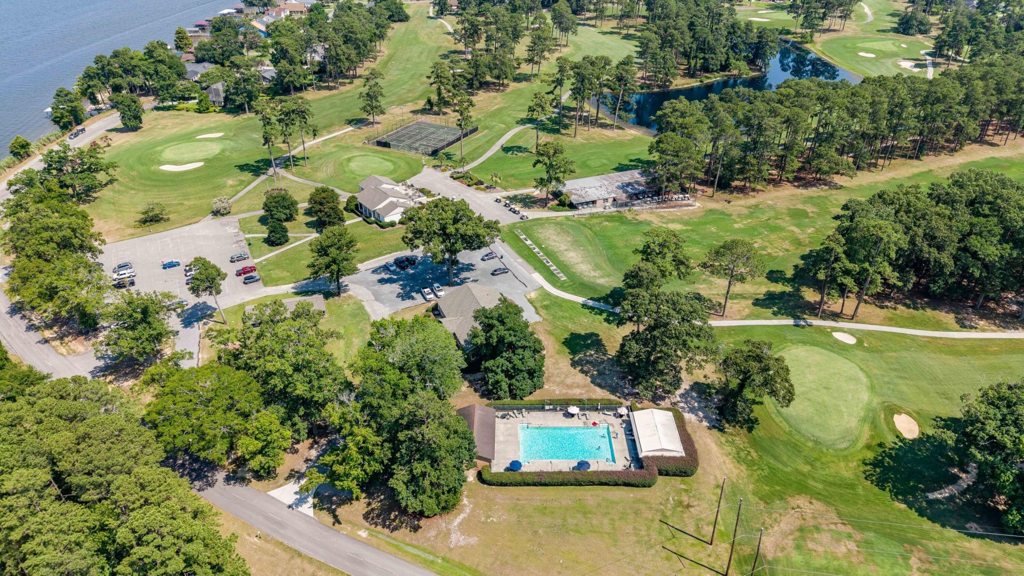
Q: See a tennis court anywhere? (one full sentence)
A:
Yes, a tennis court appears in the view.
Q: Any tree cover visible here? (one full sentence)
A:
Yes, some tree cover is visible.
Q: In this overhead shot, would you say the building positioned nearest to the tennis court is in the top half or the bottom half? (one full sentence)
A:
The building positioned nearest to the tennis court sits in the top half of the picture.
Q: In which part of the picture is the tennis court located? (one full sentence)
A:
The tennis court sits in the top section of the image.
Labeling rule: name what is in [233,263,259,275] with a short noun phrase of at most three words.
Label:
vehicle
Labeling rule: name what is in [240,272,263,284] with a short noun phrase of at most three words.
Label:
vehicle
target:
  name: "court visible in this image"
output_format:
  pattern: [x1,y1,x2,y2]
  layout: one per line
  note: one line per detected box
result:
[370,120,470,156]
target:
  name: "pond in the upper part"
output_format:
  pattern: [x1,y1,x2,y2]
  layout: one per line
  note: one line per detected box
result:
[589,39,860,134]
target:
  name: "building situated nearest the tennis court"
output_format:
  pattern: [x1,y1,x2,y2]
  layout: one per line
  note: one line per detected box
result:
[357,173,411,223]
